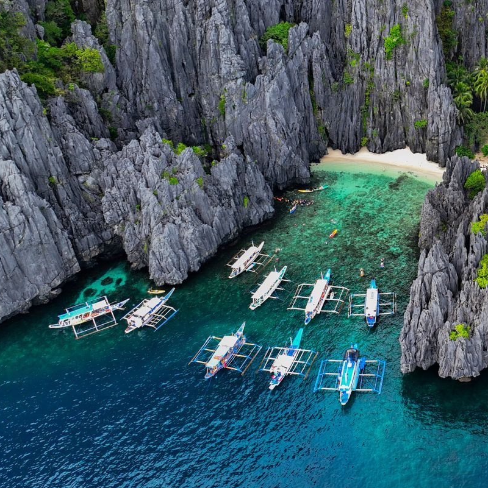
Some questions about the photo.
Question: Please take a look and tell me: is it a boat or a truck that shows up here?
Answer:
boat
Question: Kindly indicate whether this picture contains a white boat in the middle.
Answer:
Yes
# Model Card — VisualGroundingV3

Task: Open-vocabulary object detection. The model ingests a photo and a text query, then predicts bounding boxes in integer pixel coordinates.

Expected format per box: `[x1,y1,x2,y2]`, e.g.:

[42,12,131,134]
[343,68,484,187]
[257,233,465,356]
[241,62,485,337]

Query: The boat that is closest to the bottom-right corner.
[313,342,386,406]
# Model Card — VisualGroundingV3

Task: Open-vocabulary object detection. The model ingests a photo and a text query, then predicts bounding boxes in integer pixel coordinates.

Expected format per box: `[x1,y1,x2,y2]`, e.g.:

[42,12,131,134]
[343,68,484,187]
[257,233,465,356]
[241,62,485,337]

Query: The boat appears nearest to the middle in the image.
[226,241,275,280]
